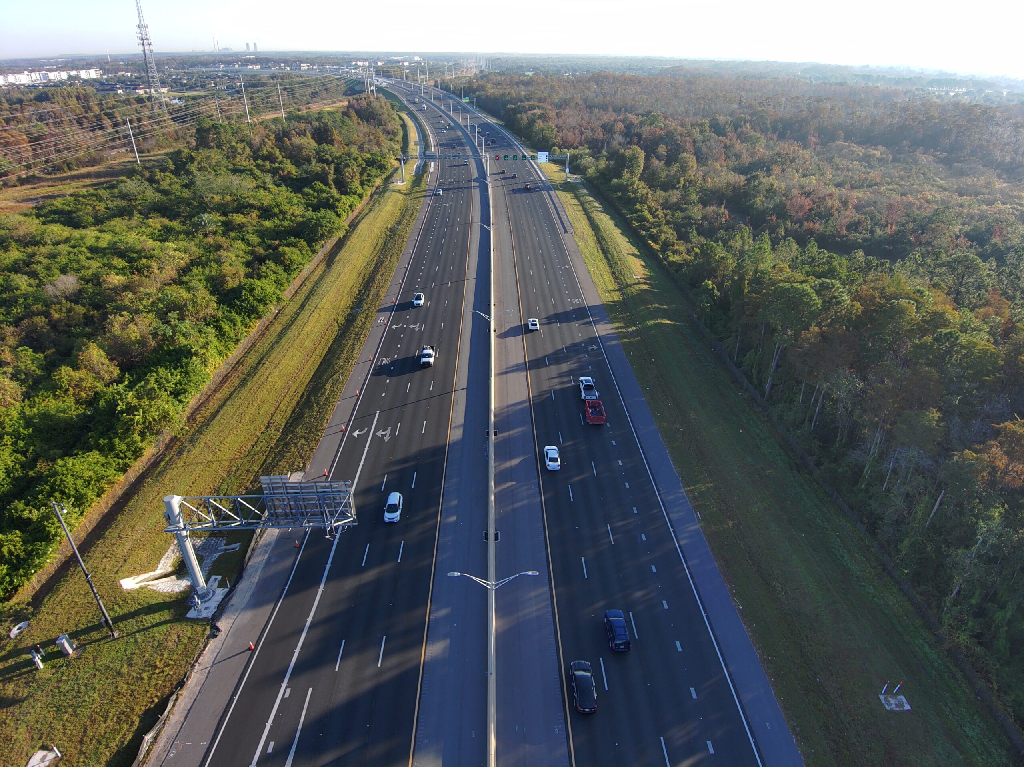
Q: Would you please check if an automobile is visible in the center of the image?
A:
Yes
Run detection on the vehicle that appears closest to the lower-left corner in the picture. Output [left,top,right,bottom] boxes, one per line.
[383,491,403,523]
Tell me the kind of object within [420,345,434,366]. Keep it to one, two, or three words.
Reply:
vehicle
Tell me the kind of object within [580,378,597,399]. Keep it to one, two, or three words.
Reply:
vehicle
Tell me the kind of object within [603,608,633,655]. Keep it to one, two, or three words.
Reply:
car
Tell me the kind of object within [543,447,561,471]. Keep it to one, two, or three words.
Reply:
car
